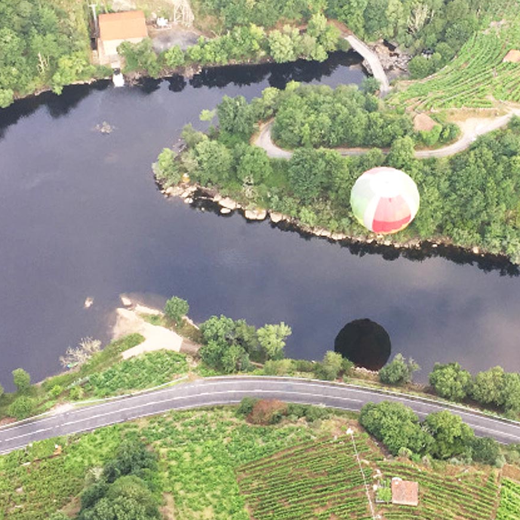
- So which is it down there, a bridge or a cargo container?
bridge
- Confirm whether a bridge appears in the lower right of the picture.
No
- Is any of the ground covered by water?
Yes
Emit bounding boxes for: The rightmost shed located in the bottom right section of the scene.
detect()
[391,479,419,507]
